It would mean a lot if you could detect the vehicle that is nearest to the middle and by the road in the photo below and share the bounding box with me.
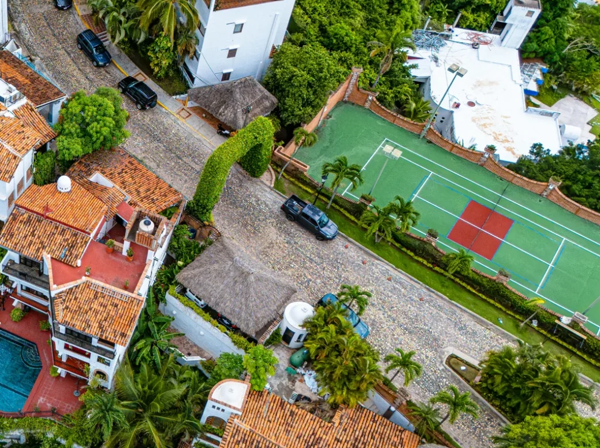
[278,189,342,242]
